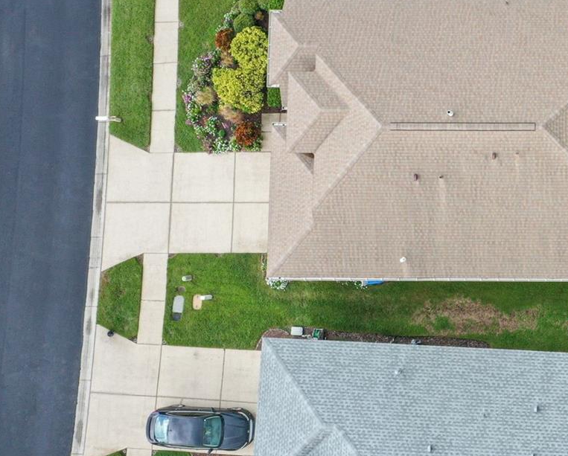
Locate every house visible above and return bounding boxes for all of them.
[264,0,568,284]
[253,337,568,456]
